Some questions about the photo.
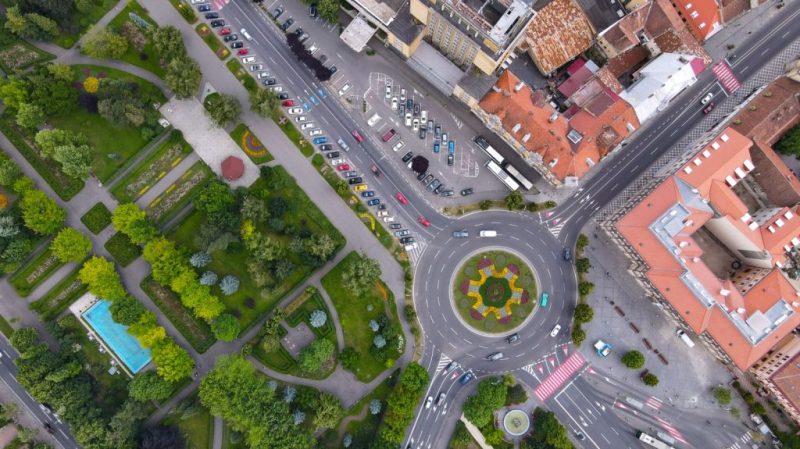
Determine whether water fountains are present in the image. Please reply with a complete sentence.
Yes, a water fountain can be made out from above.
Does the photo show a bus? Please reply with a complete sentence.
Yes, this view includes a bus.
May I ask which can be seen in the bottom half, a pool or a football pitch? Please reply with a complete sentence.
You can see a pool in the bottom half.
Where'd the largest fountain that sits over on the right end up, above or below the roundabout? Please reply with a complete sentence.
Within the scene, the largest fountain that sits over on the right can be found below the roundabout.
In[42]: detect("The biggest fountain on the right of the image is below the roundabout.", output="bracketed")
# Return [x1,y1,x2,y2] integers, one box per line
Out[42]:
[505,410,530,436]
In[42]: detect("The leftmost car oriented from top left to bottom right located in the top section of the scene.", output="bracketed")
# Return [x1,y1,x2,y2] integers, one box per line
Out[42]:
[239,27,253,42]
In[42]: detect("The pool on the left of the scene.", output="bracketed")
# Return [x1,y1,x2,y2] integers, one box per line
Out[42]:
[68,290,159,377]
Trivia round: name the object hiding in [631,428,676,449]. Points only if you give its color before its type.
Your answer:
white bus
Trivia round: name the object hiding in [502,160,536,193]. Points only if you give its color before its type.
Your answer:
white bus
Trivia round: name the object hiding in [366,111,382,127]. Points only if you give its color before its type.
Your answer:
white vehicle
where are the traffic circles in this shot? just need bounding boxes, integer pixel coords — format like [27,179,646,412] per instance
[413,210,577,373]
